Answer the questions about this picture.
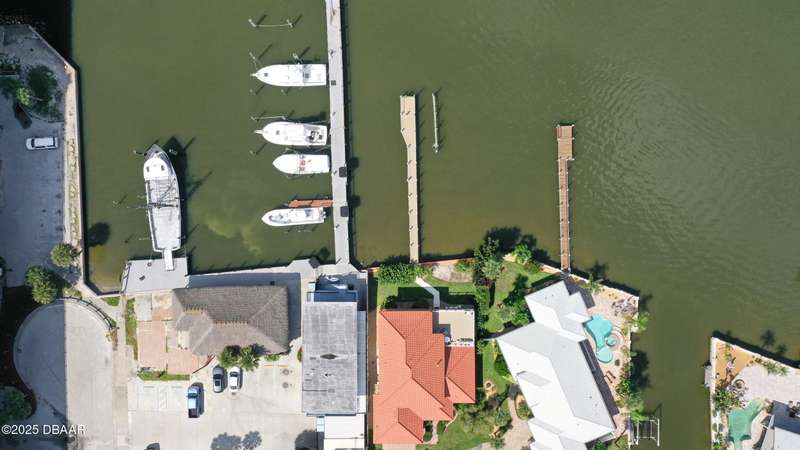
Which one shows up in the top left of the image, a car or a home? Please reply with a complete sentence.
The one visible in the top left of the image is a car.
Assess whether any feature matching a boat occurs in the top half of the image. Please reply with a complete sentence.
Yes, a boat shows up in the top half of the image.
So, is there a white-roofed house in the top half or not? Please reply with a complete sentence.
No, no white-roofed house is visible in the top half.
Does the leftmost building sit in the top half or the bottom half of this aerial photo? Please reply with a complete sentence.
The leftmost building is in the bottom half of the image.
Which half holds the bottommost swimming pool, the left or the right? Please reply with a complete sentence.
It is on the right.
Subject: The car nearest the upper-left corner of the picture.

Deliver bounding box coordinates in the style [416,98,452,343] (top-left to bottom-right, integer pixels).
[13,104,38,131]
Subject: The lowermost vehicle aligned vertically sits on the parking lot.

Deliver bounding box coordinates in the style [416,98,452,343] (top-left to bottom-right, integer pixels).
[188,383,203,419]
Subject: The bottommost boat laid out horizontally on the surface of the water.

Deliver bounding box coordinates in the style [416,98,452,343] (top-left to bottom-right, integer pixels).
[261,207,329,226]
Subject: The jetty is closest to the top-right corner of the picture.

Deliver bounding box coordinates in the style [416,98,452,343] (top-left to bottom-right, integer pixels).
[555,124,576,273]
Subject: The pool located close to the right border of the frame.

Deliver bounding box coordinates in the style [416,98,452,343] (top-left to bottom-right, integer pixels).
[727,398,764,450]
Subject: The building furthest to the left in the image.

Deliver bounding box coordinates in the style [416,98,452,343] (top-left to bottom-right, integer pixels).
[172,286,288,355]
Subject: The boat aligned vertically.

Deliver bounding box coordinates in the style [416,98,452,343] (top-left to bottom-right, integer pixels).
[137,143,186,250]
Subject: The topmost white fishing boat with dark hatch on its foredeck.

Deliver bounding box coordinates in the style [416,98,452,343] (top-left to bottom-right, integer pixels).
[249,58,327,87]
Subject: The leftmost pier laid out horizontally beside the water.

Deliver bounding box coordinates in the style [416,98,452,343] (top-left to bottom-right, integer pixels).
[120,258,191,294]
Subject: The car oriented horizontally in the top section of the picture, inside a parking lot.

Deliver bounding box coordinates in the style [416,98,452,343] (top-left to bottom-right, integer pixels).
[27,135,59,149]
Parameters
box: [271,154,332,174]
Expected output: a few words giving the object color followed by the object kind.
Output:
white boat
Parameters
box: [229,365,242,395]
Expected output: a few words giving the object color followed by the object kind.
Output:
white vehicle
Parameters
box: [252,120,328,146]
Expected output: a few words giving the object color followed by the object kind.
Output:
white boat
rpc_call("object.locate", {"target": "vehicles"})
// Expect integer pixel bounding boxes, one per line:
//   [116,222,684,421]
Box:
[211,365,225,393]
[188,383,203,419]
[27,135,59,149]
[229,365,242,395]
[13,104,38,131]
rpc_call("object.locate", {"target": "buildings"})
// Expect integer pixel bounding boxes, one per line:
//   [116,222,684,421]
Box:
[751,416,800,450]
[301,280,367,416]
[172,286,288,355]
[497,281,614,450]
[372,307,476,445]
